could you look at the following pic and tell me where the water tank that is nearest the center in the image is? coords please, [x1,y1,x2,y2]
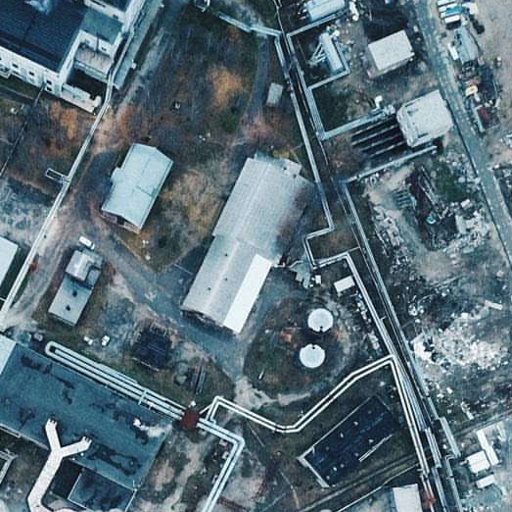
[303,308,333,337]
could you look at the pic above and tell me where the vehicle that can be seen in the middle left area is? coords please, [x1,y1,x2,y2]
[78,236,94,248]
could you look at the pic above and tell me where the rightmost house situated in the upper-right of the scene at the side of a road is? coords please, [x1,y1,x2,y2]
[390,89,455,155]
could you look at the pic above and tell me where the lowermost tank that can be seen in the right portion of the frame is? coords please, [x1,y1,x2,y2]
[295,343,325,372]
